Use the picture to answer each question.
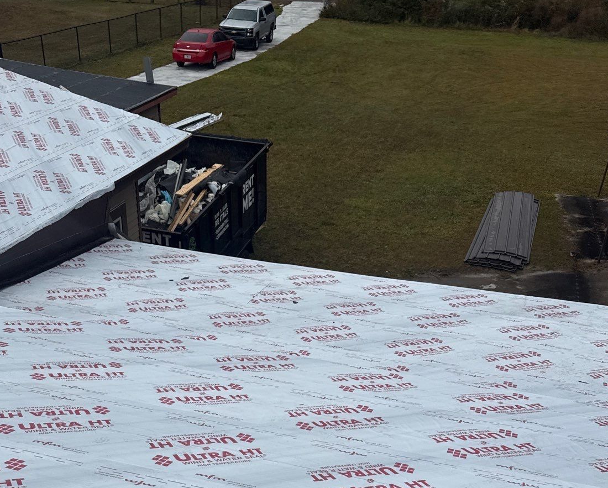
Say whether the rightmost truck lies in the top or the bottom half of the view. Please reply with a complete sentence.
It is in the top half that the rightmost truck appears.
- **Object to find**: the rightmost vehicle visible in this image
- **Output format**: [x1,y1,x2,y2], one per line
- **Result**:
[220,2,277,50]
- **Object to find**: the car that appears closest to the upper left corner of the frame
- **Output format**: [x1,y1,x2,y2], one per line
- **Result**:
[172,30,239,68]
